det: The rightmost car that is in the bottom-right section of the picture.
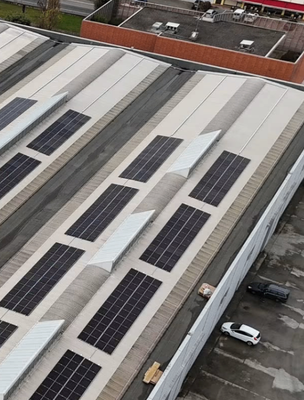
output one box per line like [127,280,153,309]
[247,279,292,302]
